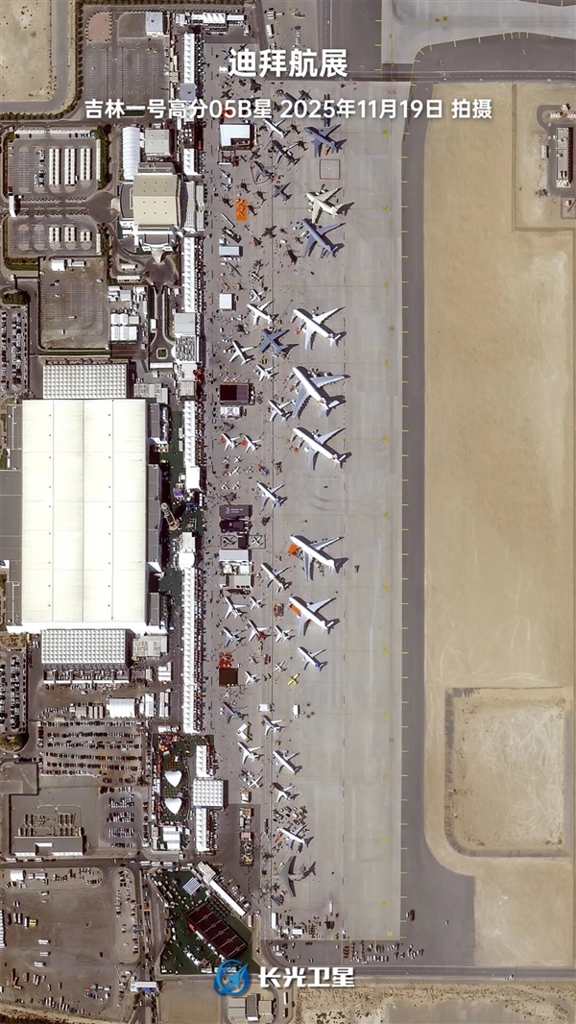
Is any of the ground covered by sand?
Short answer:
Yes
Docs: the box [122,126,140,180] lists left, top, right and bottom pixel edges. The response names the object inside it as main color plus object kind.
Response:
white tent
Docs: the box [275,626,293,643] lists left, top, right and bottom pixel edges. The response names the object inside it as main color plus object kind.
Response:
white airplane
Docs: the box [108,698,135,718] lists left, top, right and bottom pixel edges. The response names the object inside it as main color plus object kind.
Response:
white tent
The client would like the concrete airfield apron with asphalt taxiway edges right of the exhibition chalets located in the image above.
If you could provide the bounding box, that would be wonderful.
[198,0,576,966]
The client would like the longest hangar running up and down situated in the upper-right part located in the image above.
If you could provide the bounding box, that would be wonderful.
[556,128,570,191]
